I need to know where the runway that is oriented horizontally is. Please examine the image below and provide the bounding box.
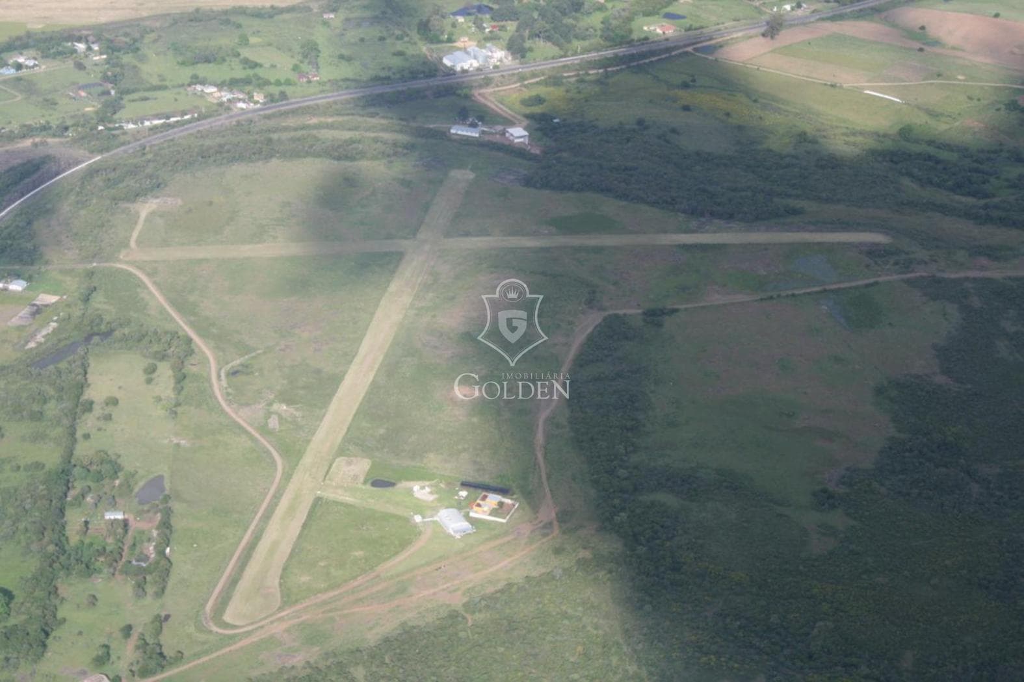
[121,232,892,260]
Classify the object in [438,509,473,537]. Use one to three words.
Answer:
hangar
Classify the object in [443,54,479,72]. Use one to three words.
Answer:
building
